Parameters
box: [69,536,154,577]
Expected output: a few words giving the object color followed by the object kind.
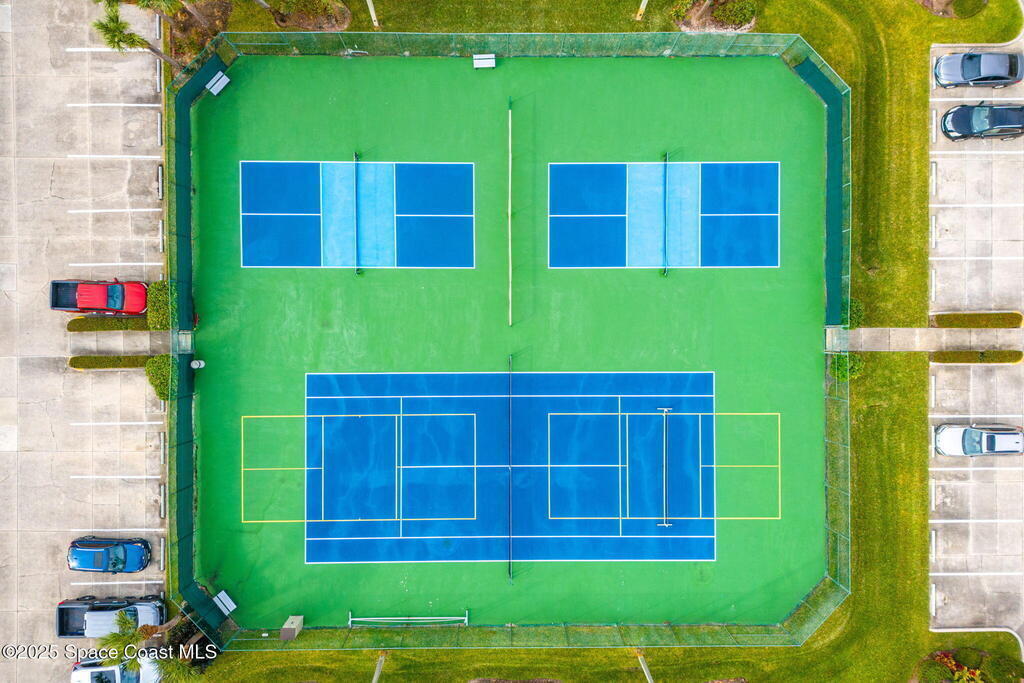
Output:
blue car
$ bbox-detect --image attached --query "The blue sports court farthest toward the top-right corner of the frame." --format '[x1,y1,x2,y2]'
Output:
[548,162,780,268]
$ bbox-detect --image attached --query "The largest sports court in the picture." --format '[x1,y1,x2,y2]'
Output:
[192,53,827,630]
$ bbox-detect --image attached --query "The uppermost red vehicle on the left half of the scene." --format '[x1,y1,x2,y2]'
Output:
[51,277,151,318]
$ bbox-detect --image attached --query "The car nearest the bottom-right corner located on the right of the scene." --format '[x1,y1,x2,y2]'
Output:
[933,422,1022,461]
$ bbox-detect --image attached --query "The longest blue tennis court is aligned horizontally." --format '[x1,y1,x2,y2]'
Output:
[305,371,717,564]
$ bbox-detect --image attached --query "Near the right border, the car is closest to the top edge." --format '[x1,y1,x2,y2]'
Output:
[932,47,1021,89]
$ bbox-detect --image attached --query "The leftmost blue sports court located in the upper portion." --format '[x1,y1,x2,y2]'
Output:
[240,161,475,268]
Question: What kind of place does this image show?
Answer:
sports ground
